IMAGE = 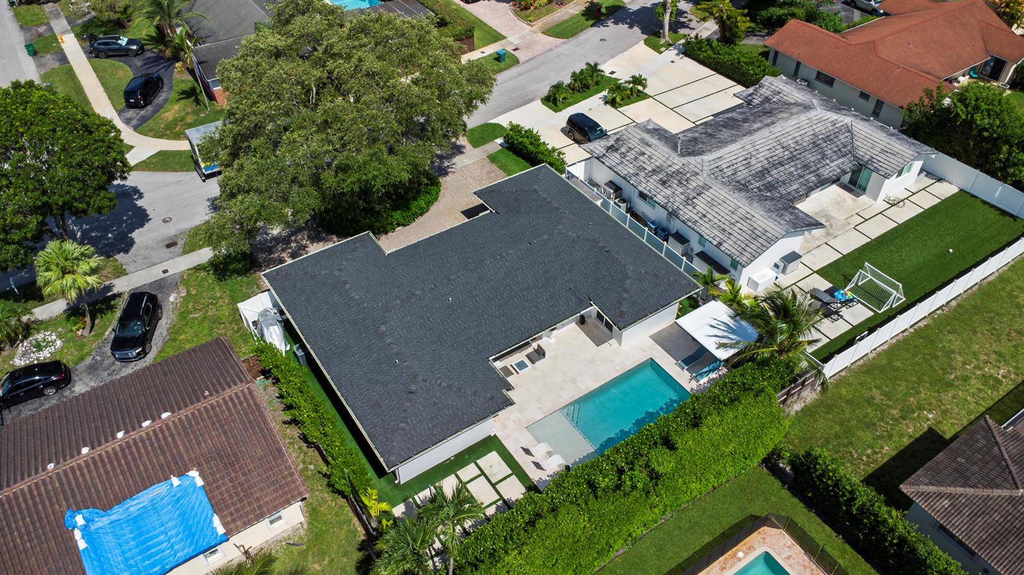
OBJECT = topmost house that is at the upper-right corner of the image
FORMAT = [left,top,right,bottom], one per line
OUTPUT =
[759,0,1024,130]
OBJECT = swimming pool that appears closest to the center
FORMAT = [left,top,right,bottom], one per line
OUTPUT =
[517,351,696,483]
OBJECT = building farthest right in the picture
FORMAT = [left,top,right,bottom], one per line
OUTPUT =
[897,409,1024,575]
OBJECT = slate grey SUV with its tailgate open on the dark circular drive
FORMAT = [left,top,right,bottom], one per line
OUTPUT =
[77,30,144,57]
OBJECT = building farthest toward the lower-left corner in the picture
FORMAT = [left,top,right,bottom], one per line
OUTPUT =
[0,335,313,575]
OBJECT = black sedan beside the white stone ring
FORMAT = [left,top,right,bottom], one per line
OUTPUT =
[0,357,68,410]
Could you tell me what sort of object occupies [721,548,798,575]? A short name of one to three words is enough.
swimming pool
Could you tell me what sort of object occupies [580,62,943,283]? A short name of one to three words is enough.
house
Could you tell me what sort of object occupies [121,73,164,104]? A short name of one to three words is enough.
car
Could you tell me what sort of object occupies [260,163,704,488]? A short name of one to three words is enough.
house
